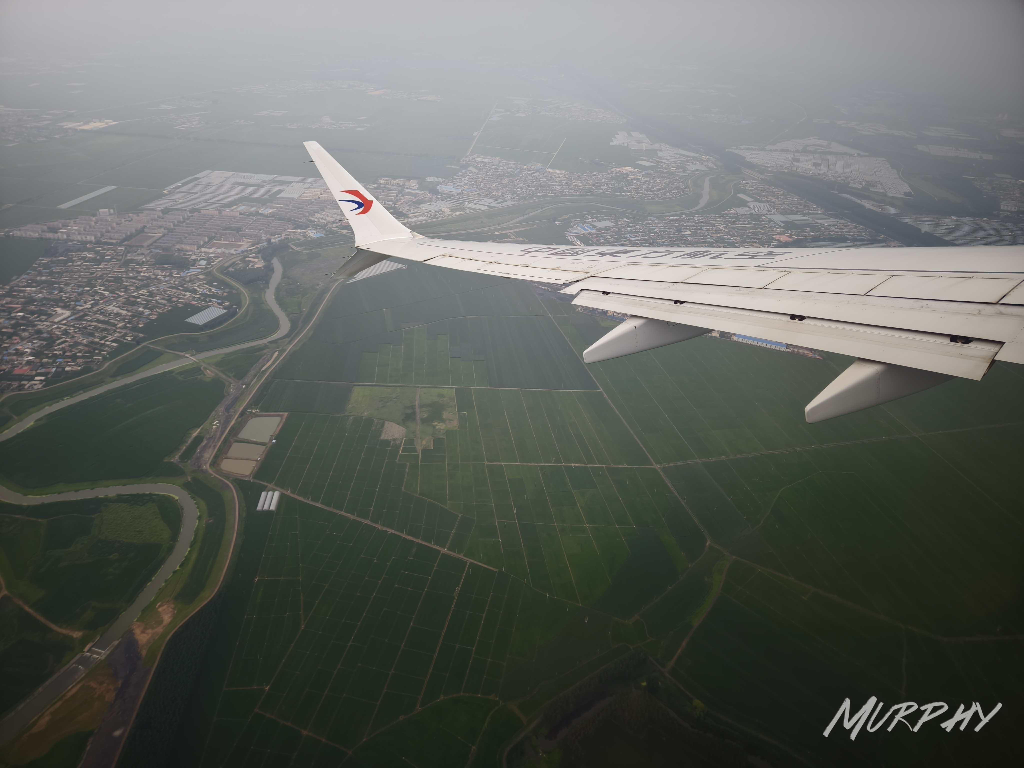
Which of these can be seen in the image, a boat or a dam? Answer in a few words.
dam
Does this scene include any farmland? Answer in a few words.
Yes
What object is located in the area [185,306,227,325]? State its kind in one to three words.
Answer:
greenhouse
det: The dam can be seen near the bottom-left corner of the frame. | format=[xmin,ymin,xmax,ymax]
[17,635,122,717]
